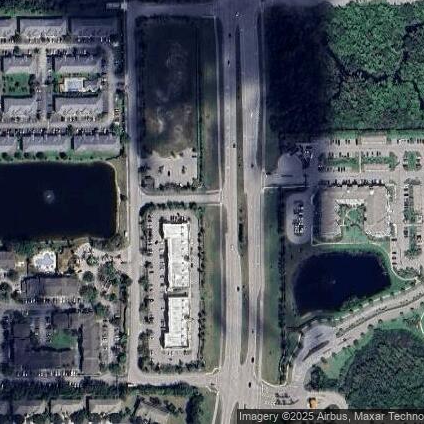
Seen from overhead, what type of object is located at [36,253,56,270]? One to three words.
swimming pool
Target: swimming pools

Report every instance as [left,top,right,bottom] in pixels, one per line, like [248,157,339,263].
[65,78,83,91]
[36,253,56,270]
